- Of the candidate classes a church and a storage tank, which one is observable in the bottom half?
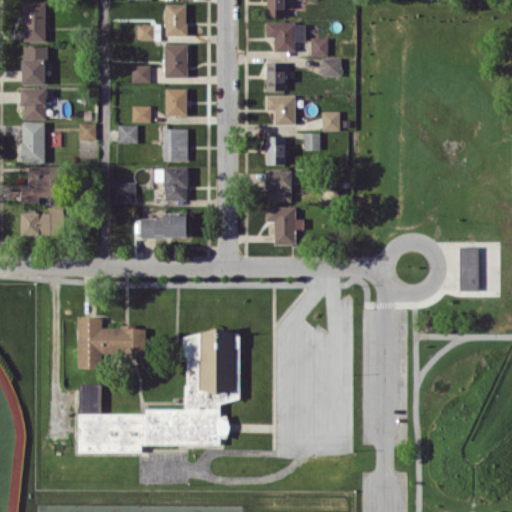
church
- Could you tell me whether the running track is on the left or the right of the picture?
left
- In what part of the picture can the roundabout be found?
right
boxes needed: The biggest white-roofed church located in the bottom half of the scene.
[77,329,240,455]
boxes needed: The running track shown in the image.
[0,364,26,512]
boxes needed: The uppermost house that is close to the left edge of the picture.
[22,0,46,42]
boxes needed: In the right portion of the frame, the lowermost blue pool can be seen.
[304,103,320,118]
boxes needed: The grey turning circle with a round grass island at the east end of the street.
[378,234,446,302]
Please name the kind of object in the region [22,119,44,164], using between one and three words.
house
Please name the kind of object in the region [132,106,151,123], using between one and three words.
building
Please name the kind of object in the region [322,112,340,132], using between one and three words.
building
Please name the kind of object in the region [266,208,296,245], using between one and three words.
house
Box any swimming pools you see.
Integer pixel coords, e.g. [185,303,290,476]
[304,103,320,118]
[330,21,344,34]
[62,101,72,118]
